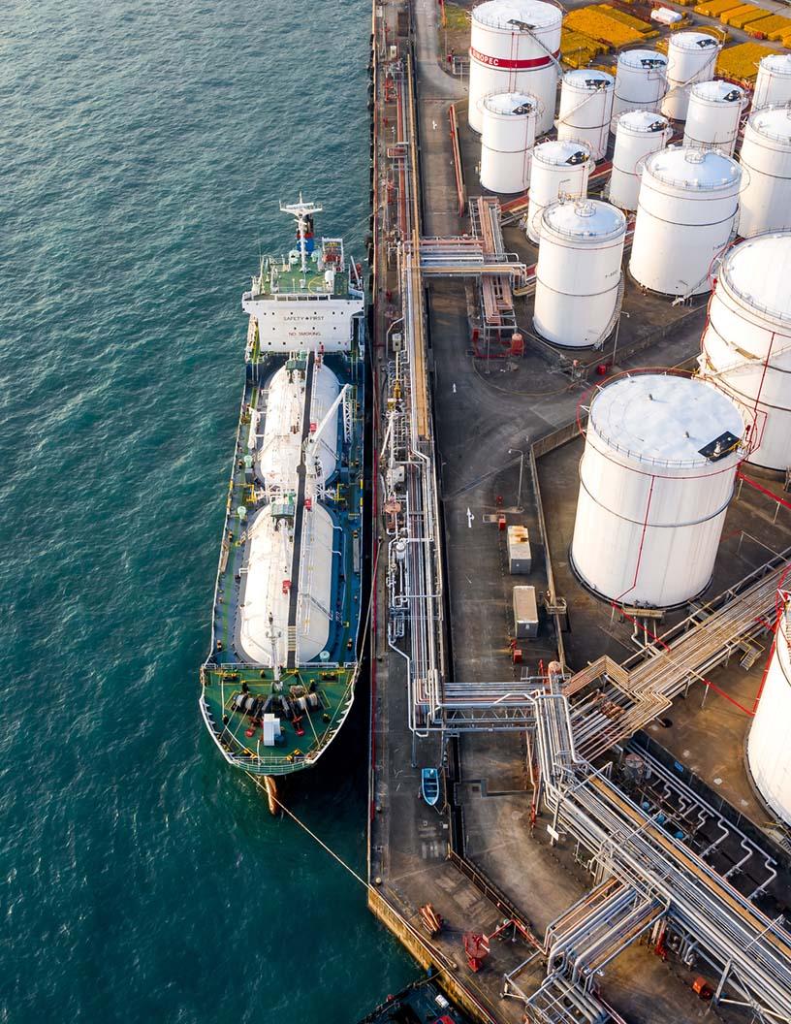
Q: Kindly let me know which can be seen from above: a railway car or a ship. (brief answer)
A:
ship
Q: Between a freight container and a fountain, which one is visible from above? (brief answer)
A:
freight container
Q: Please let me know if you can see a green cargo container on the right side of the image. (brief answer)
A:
No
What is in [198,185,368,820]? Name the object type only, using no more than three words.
ship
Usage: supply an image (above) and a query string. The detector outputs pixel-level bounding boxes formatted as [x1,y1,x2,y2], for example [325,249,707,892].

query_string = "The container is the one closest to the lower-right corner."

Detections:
[511,581,540,637]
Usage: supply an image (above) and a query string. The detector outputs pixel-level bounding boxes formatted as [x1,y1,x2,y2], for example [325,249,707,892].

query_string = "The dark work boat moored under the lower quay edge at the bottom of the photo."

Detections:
[368,980,467,1024]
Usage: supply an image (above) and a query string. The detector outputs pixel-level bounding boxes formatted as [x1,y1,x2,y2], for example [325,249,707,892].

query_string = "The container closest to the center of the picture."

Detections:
[506,526,533,573]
